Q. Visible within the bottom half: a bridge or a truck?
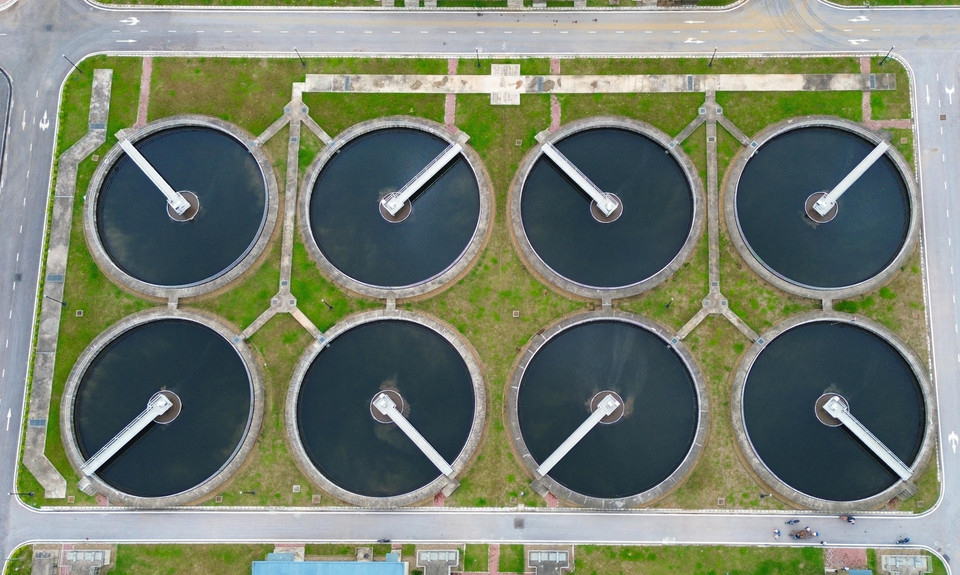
bridge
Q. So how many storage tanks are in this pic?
8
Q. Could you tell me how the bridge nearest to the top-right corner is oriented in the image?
diagonally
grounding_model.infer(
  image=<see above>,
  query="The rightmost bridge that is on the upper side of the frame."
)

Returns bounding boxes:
[813,138,894,216]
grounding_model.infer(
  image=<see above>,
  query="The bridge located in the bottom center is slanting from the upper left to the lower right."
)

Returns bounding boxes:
[371,393,454,477]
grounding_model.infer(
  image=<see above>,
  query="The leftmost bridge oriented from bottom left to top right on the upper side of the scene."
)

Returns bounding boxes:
[380,139,464,215]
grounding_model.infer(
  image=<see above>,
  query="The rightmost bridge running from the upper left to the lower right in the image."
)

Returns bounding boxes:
[823,395,916,480]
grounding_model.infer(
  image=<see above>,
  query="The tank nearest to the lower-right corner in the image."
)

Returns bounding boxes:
[731,310,937,511]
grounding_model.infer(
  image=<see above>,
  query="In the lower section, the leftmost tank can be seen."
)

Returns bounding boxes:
[62,309,265,507]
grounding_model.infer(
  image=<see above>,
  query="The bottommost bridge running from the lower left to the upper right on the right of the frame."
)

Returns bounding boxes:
[538,393,622,477]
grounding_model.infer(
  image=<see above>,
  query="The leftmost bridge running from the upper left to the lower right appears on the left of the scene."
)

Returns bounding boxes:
[114,136,190,215]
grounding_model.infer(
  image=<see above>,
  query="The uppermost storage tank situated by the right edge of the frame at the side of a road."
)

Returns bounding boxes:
[725,115,922,299]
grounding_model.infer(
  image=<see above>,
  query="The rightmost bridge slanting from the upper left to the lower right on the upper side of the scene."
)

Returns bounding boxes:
[540,139,622,215]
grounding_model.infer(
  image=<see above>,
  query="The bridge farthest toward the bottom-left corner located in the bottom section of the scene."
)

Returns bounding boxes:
[81,392,173,475]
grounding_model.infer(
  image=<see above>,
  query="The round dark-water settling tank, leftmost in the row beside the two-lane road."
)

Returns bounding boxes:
[84,115,279,299]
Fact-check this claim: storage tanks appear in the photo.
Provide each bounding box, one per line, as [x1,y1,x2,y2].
[513,117,703,298]
[506,310,708,507]
[62,309,265,507]
[725,115,922,299]
[731,310,937,511]
[297,115,491,300]
[286,310,486,507]
[84,115,279,299]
